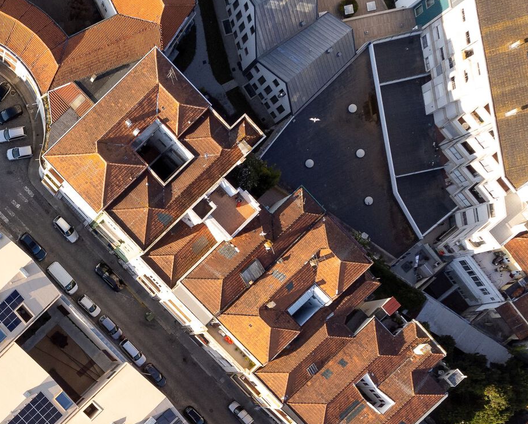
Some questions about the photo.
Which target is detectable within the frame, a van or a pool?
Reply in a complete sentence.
There is a van in the scene.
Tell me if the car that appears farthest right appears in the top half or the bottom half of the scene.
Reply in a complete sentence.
The car that appears farthest right is in the bottom half of the image.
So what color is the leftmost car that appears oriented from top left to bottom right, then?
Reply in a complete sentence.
The leftmost car that appears oriented from top left to bottom right looks black in the image.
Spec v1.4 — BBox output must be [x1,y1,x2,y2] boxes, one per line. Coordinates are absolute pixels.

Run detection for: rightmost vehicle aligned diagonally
[224,397,256,424]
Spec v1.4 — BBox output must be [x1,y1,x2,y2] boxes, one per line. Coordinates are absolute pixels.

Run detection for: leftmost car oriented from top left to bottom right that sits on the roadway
[18,230,47,264]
